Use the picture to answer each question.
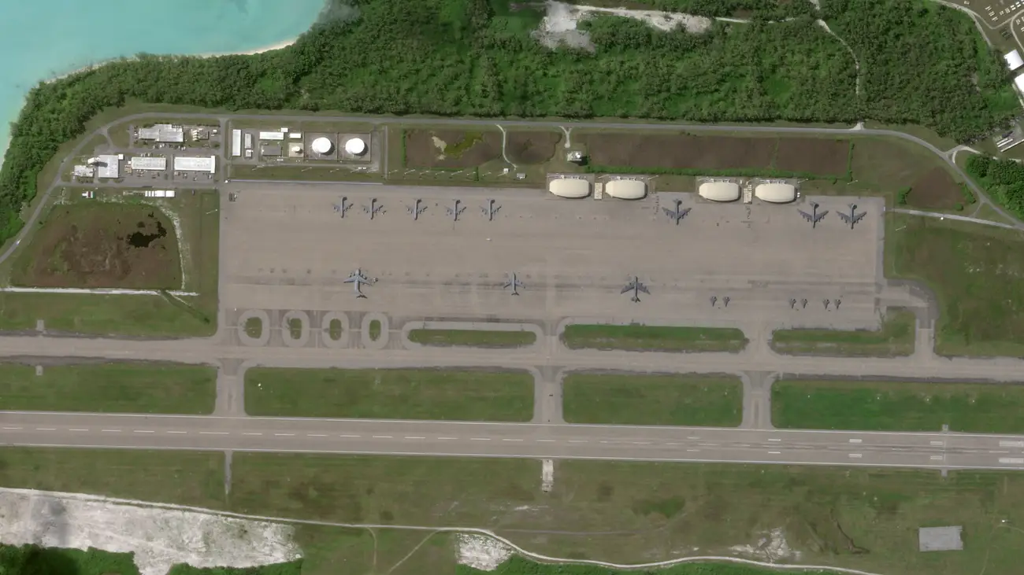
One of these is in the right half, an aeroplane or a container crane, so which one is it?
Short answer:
aeroplane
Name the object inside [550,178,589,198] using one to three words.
hangar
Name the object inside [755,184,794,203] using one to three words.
hangar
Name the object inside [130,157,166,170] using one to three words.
building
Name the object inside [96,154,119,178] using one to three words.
building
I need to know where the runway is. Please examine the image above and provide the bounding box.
[0,412,1024,469]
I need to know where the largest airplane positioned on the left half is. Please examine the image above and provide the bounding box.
[344,269,372,297]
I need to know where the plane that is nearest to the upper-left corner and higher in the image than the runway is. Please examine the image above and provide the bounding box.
[332,195,354,218]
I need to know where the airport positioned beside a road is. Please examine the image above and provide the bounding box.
[0,181,1024,469]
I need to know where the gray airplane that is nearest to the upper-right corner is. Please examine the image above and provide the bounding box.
[837,202,868,229]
